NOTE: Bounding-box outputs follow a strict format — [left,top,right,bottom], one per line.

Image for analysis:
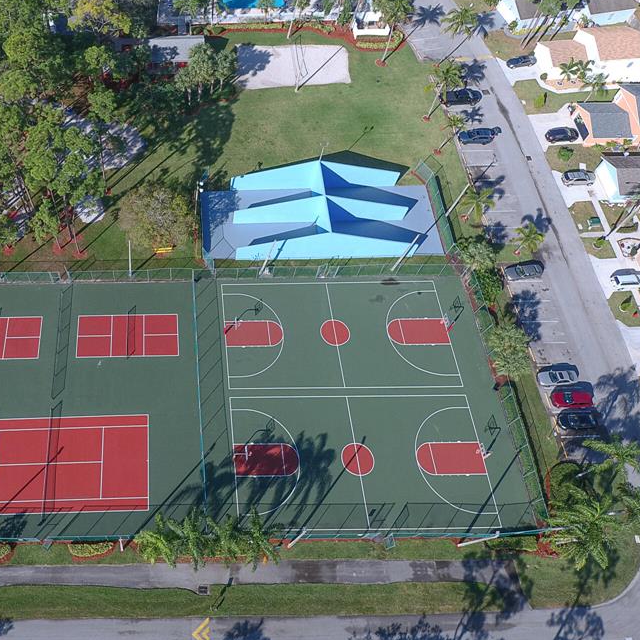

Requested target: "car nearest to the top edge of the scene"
[507,52,536,67]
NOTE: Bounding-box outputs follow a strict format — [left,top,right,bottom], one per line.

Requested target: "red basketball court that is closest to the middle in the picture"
[219,281,463,390]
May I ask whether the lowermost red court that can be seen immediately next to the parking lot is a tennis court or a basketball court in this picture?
basketball court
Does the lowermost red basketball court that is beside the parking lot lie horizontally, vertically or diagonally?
horizontally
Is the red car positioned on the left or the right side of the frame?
right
